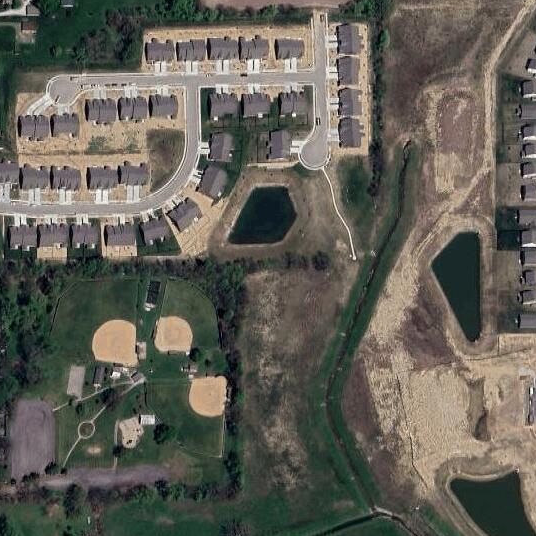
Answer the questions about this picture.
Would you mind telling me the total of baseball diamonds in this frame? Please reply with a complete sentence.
The photo contains 3 baseball diamonds.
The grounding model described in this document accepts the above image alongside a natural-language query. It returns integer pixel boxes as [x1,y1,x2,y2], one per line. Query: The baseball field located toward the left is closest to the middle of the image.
[153,278,223,355]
